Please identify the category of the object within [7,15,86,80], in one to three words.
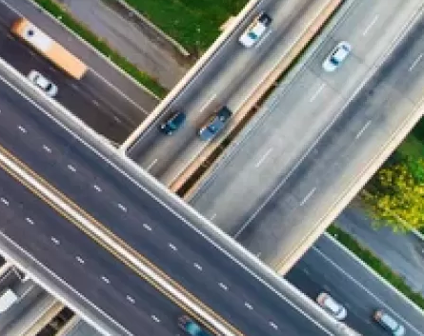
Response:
bus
